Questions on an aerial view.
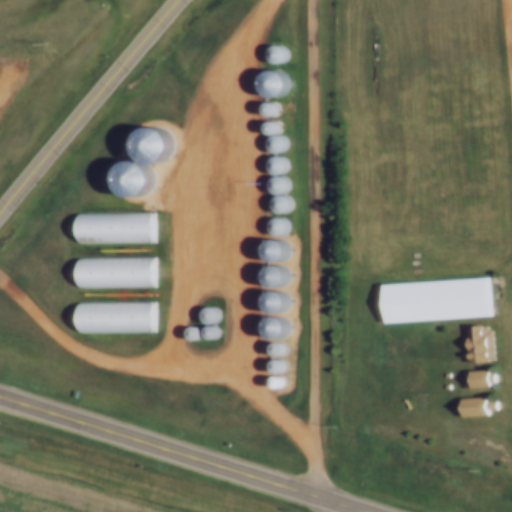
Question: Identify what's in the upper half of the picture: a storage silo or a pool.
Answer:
storage silo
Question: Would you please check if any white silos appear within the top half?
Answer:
Yes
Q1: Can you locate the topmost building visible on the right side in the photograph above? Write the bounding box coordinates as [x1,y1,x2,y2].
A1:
[380,276,496,325]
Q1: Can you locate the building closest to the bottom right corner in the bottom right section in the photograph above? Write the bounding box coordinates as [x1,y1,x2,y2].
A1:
[458,398,498,418]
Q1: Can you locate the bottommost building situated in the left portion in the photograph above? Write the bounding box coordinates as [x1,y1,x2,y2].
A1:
[73,302,159,334]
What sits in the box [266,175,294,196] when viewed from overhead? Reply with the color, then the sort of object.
white silo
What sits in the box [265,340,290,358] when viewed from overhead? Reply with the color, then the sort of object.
white silo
